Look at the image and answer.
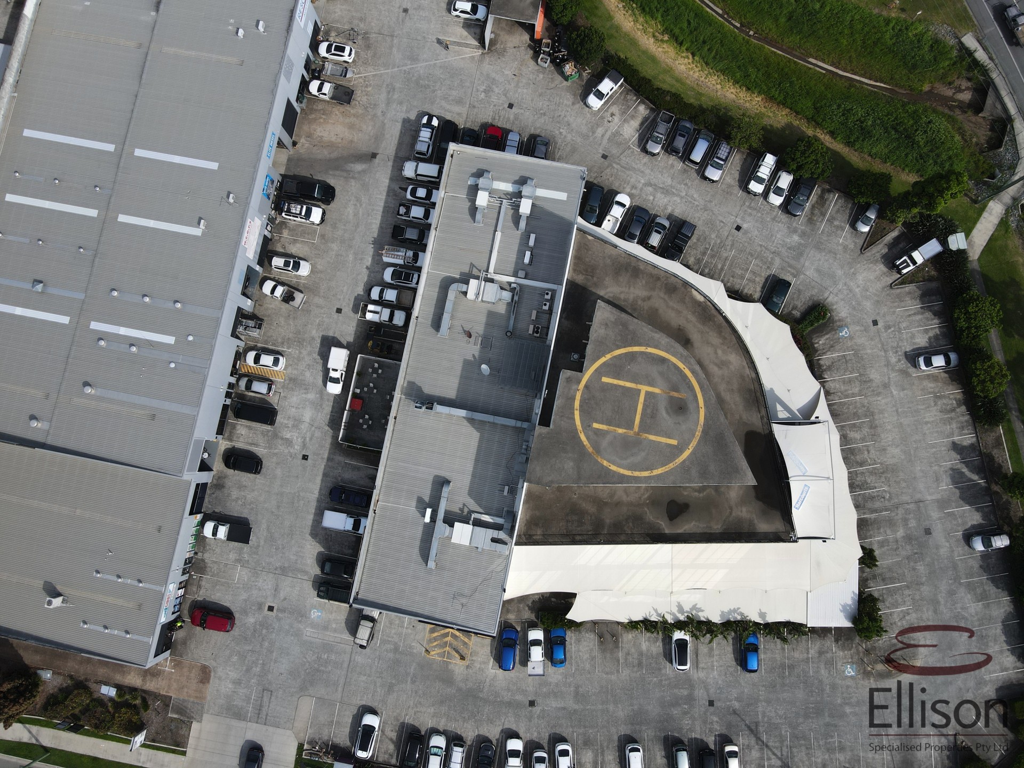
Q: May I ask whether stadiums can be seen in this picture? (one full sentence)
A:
No, no stadium is visible in the scene.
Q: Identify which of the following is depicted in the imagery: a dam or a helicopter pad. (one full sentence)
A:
I can see a helicopter pad in this picture.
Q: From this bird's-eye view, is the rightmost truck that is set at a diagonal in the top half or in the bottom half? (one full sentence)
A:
The rightmost truck that is set at a diagonal is in the top half of the image.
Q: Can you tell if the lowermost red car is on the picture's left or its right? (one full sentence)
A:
The lowermost red car sits on the left side.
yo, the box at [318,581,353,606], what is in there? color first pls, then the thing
black truck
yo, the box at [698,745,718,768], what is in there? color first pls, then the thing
black car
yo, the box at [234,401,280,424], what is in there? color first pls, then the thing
black vehicle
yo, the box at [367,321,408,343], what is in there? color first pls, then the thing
black trailer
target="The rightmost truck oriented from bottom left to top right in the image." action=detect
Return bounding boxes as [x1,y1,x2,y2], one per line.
[892,235,947,276]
